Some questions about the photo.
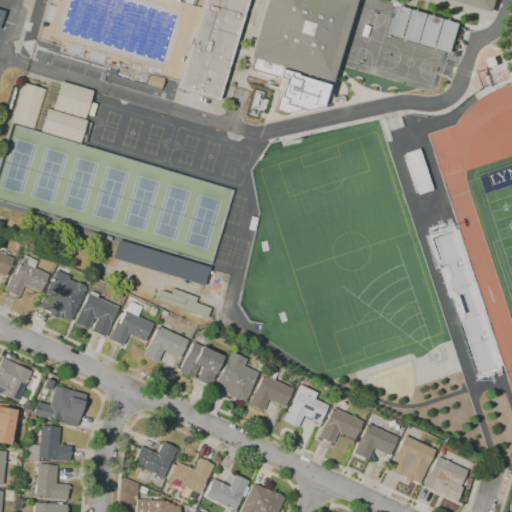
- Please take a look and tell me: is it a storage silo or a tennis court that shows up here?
tennis court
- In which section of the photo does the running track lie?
right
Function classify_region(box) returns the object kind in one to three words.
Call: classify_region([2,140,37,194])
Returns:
tennis court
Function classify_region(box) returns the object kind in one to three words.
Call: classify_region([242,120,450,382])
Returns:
soccer field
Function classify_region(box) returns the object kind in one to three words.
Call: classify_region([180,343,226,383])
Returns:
house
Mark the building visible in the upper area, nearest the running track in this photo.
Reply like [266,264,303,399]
[404,148,436,194]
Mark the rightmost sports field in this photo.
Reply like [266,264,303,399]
[467,158,512,316]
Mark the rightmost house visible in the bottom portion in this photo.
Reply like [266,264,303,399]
[424,458,470,502]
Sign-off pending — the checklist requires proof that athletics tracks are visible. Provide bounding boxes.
[428,84,512,384]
